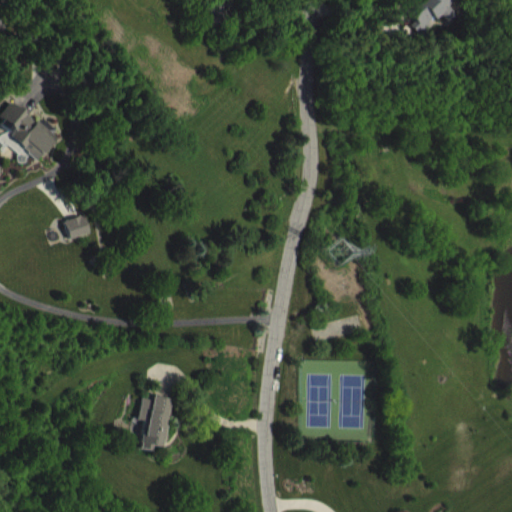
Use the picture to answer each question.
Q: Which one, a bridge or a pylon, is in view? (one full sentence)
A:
This aerial view contains a pylon.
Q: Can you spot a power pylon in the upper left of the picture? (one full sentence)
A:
No, I can find no power pylon in the upper left of the picture.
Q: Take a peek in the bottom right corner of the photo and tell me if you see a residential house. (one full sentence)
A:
No, no residential house is visible in the bottom right corner of the photo.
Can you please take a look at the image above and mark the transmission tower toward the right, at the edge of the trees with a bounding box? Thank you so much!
[328,237,376,266]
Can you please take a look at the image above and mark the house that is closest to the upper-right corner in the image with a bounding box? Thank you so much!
[412,0,456,31]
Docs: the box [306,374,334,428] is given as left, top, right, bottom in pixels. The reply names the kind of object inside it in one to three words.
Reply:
tennis court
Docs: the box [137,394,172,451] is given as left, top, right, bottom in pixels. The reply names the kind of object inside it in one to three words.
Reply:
house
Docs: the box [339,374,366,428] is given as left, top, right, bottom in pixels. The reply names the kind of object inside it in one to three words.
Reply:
tennis court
